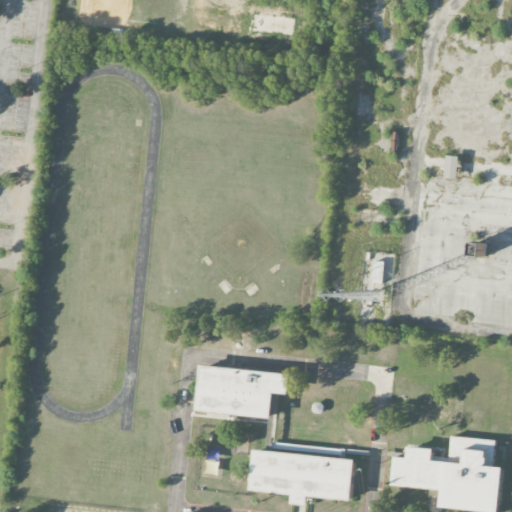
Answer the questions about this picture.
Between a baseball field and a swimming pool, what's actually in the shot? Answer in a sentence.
Looking from above, you can make out a baseball field.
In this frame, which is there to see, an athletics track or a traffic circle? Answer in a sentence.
Visible in the photo is an athletics track.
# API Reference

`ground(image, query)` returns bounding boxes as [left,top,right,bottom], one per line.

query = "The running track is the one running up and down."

[34,64,162,431]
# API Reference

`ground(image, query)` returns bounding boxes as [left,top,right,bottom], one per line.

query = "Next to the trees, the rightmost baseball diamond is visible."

[164,105,312,296]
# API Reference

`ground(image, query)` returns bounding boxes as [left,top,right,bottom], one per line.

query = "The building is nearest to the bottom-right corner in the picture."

[387,436,504,512]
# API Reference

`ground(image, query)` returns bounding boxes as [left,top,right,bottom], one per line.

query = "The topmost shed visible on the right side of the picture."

[444,156,460,180]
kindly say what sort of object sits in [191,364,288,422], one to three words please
building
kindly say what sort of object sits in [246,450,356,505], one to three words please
building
